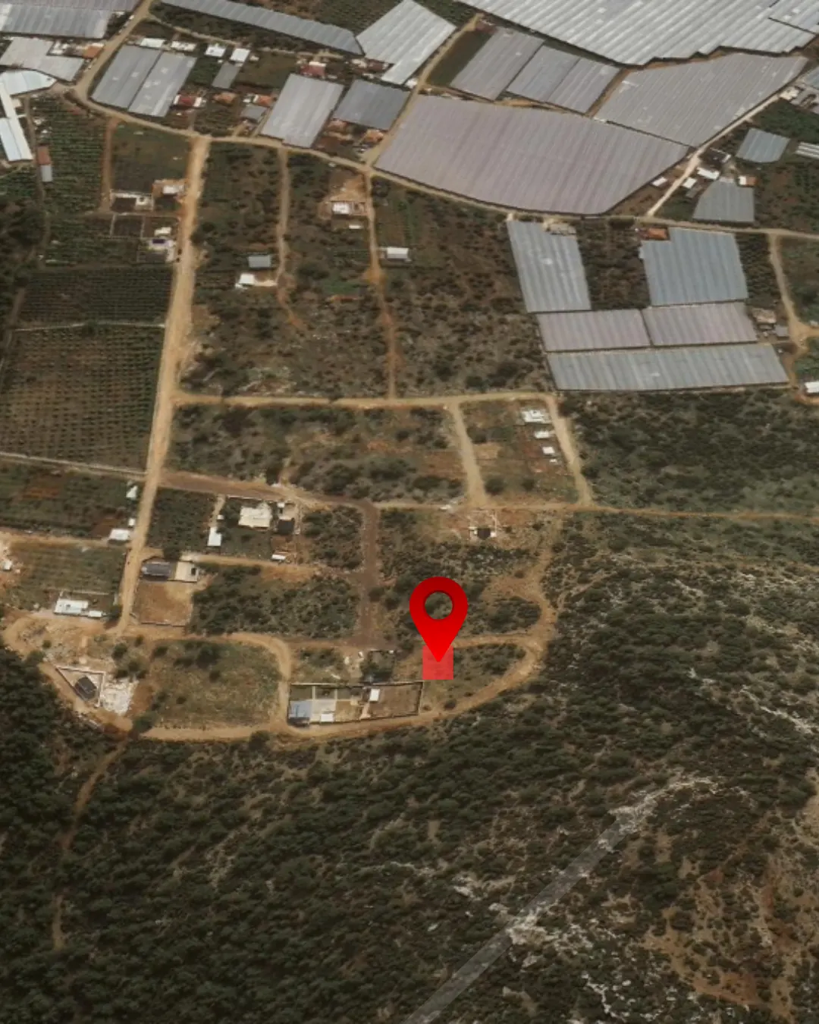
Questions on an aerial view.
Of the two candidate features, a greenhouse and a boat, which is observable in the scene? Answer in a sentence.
There is a greenhouse in the scene.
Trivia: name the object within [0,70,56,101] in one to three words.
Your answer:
building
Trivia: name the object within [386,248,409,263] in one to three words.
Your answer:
house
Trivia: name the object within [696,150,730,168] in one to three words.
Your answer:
shed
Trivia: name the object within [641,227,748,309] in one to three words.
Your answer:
greenhouse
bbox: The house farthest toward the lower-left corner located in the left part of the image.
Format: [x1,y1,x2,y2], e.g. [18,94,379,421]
[75,677,97,704]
